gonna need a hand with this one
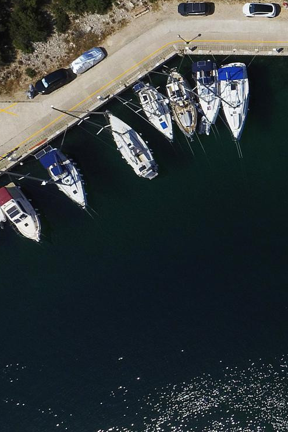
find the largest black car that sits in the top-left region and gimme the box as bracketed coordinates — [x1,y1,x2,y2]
[37,67,72,93]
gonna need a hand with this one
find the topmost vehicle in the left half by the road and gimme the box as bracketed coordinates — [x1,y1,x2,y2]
[69,48,108,75]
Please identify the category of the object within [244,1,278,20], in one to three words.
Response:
car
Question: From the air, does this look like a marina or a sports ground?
marina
